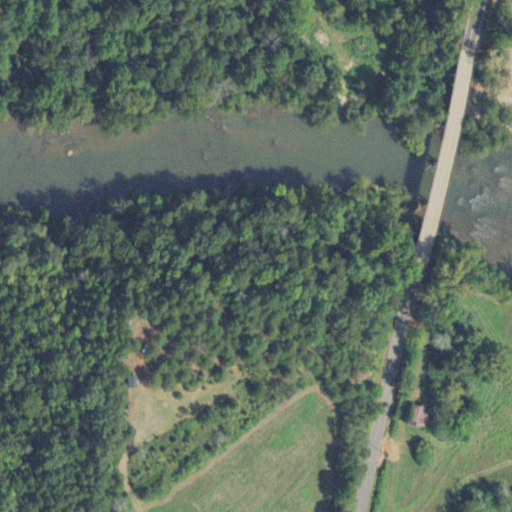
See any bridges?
Yes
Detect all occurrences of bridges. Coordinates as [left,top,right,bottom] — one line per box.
[419,46,474,247]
